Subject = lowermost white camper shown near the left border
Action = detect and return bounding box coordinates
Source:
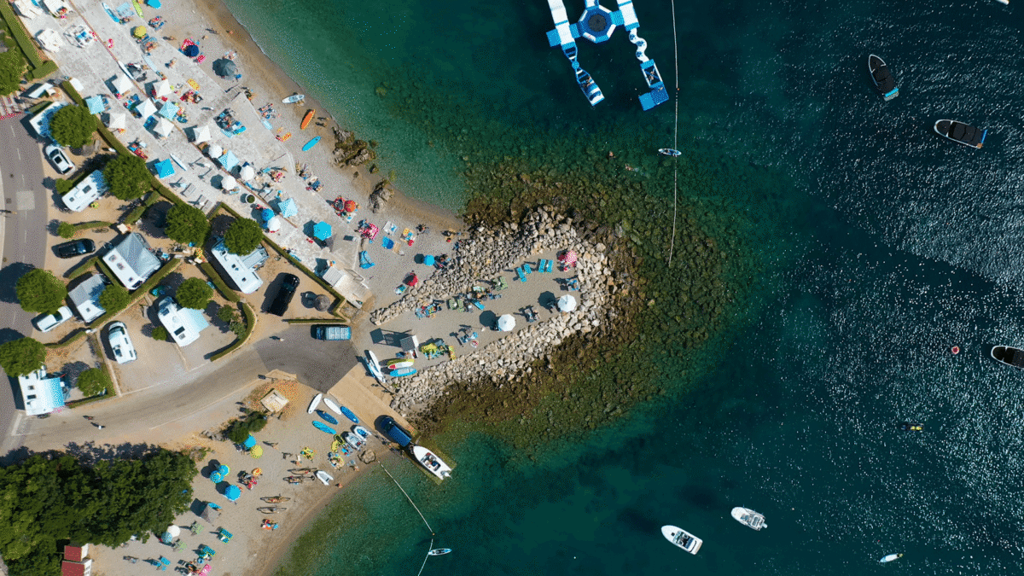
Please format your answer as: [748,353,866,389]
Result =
[22,366,74,419]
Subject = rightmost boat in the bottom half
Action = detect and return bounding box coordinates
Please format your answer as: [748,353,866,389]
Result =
[988,347,1024,370]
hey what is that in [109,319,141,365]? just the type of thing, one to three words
van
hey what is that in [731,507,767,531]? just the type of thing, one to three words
boat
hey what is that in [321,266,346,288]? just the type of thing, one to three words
shed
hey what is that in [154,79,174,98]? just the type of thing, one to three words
umbrella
